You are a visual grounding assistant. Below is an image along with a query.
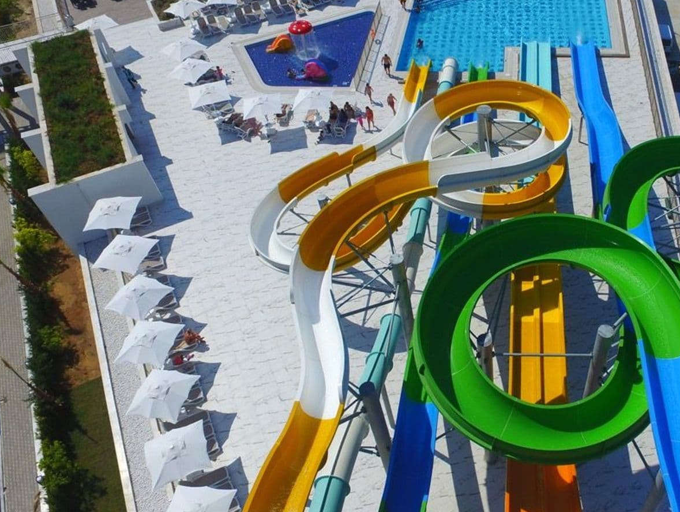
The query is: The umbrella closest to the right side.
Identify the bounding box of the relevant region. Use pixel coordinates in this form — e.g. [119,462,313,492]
[288,88,335,129]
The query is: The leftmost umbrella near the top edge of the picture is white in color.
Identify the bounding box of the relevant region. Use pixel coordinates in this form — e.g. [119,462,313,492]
[77,16,119,39]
